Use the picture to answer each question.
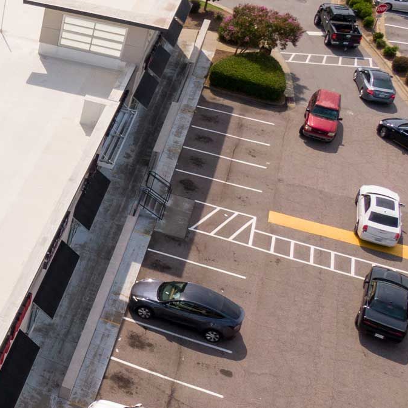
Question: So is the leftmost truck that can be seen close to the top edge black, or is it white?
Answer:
black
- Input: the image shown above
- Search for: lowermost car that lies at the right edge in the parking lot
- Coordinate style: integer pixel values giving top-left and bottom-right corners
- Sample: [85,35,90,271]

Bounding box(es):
[355,265,408,344]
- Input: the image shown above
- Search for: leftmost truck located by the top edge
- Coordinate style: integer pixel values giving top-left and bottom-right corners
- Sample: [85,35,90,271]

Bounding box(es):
[320,1,363,43]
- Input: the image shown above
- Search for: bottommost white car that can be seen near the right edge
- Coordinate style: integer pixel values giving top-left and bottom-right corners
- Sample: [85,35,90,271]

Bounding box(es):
[353,184,408,250]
